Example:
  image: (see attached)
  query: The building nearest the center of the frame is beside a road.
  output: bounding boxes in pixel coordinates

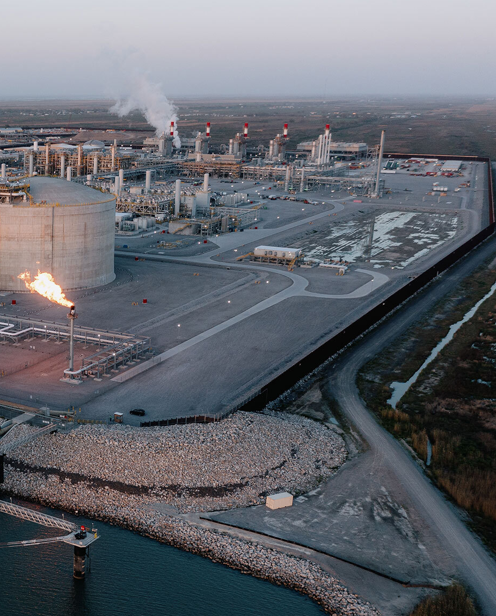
[242,243,301,266]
